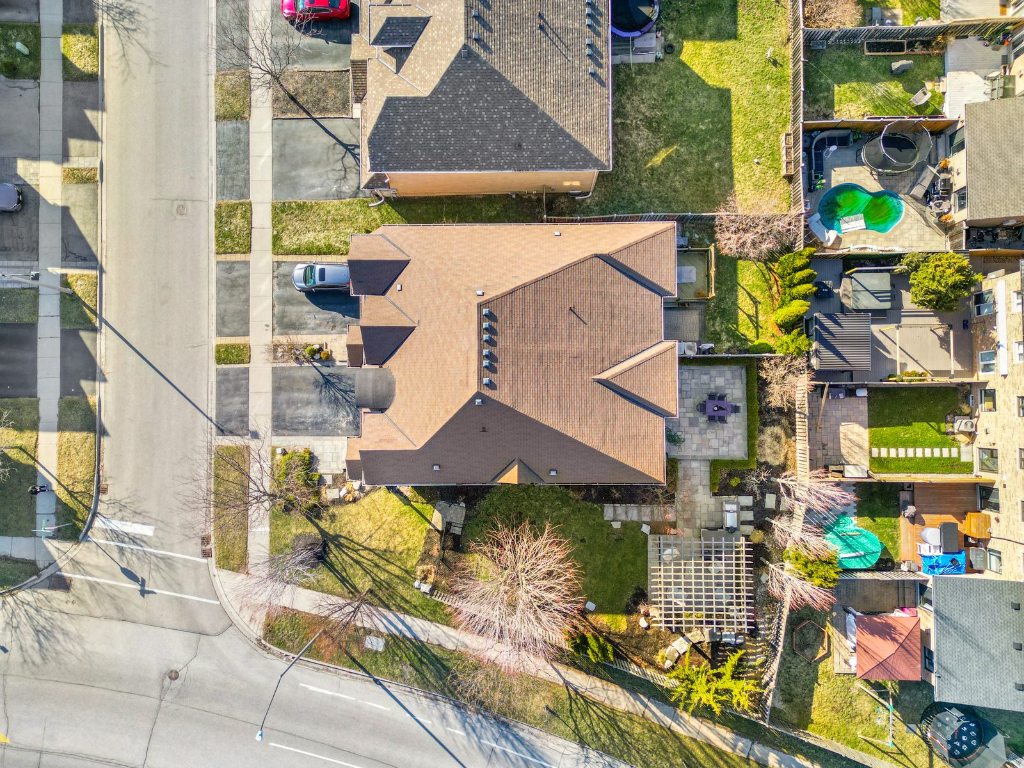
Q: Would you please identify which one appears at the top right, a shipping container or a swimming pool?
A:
swimming pool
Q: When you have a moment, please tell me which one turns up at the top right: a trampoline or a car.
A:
trampoline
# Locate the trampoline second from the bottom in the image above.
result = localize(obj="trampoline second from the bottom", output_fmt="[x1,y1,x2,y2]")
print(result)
[856,124,932,176]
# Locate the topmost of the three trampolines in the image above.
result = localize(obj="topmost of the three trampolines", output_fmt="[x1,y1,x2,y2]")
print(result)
[611,0,659,40]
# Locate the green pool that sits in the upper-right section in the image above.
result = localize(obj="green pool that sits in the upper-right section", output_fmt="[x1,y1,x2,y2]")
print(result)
[812,176,909,240]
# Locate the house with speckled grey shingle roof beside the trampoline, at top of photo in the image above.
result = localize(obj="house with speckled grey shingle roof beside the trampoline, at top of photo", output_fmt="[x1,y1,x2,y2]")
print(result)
[349,0,611,205]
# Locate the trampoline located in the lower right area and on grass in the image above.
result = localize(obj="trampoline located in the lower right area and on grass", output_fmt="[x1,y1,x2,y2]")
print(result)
[921,703,1004,768]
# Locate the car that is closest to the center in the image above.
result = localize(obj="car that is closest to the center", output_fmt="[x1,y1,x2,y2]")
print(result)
[291,263,351,294]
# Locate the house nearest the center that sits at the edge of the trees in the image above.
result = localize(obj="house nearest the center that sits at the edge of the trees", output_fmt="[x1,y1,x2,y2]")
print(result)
[345,221,679,486]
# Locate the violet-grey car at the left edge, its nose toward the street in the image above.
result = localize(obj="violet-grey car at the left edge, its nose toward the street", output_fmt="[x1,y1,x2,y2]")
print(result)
[0,184,20,212]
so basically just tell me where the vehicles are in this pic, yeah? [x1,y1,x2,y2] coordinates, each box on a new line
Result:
[0,184,20,212]
[291,263,351,294]
[283,0,349,26]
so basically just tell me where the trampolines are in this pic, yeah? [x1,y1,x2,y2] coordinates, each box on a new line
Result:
[856,124,932,176]
[921,703,1004,768]
[611,0,659,40]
